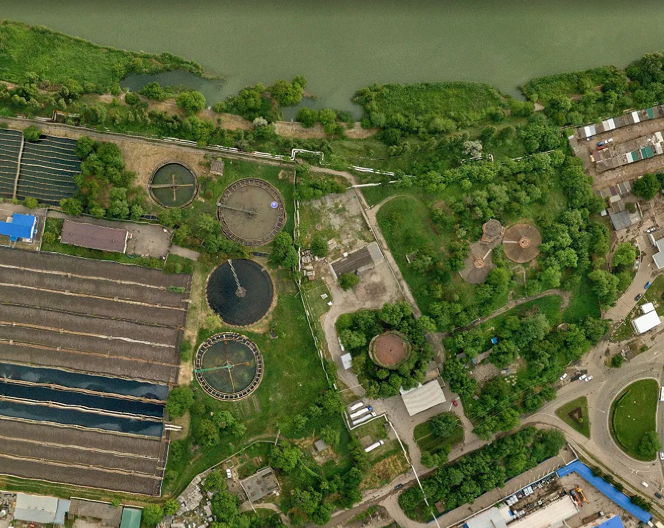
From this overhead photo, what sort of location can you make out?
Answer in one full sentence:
It's an industrial area.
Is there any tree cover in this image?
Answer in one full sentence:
Yes, the picture does contain tree cover.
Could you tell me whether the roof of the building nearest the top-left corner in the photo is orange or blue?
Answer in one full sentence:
The roof of the building nearest the top-left corner is blue.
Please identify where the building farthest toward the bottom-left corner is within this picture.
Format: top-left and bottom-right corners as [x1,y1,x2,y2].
[14,492,70,525]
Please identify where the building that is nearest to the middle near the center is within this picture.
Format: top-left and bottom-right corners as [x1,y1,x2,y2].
[331,242,383,278]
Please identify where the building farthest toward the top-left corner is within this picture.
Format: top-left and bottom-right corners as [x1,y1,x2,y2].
[0,213,38,241]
